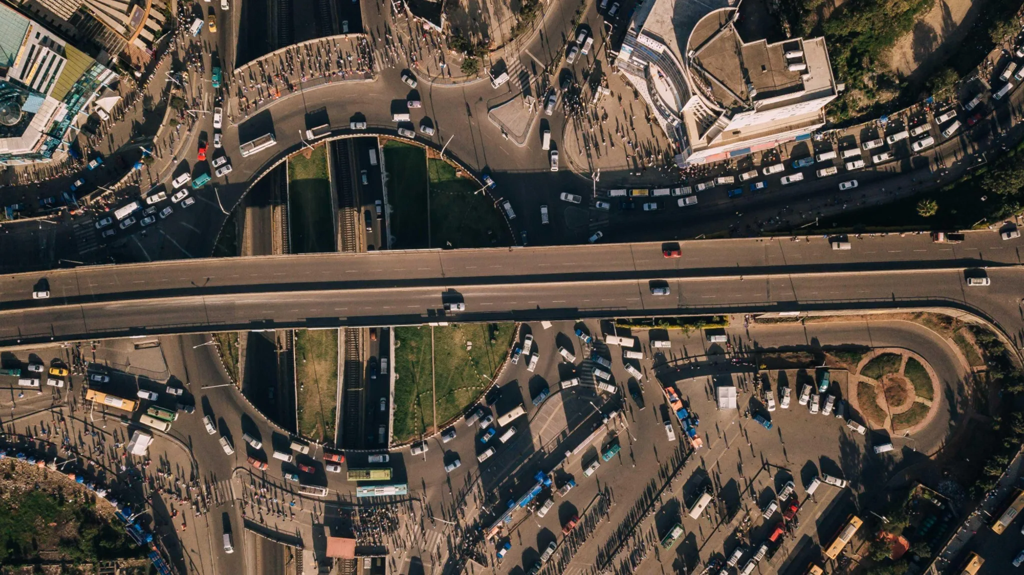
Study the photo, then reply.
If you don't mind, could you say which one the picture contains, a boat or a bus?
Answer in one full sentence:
The one in the frame is a bus.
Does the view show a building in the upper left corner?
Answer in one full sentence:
Yes, I can see a building in the upper left corner.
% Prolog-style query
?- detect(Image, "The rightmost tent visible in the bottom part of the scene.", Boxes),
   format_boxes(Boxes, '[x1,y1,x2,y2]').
[714,385,736,408]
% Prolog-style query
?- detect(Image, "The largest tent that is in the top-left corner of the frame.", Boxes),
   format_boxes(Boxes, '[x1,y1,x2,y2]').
[96,90,124,116]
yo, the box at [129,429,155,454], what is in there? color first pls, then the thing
white tent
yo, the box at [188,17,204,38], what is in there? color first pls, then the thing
white vehicle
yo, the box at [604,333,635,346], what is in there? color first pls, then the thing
white vehicle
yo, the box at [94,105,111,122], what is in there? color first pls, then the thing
white car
